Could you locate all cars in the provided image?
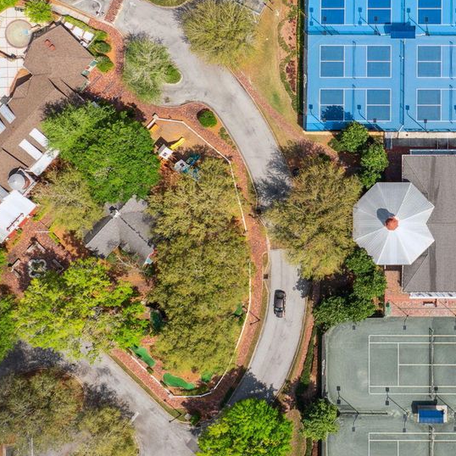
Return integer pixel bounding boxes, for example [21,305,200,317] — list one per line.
[271,290,285,316]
